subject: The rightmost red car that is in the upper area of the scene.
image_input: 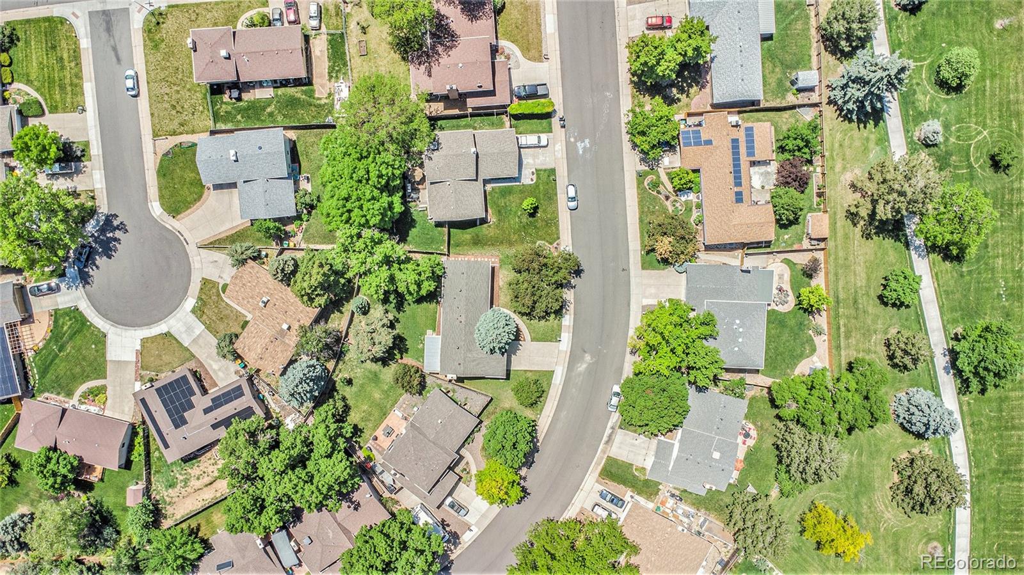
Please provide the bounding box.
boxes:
[645,15,673,30]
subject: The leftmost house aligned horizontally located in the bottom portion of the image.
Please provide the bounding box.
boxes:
[14,398,135,470]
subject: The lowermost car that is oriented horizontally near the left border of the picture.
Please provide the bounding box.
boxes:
[30,281,60,296]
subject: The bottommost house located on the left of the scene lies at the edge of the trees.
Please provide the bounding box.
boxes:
[204,528,287,575]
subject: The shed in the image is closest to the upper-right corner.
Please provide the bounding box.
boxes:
[787,71,818,90]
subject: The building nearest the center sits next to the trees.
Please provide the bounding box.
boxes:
[423,260,506,382]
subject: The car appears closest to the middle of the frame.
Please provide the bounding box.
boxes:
[566,183,578,211]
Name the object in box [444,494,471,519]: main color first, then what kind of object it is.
white car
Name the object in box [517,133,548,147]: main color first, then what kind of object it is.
white car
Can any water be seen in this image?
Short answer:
No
